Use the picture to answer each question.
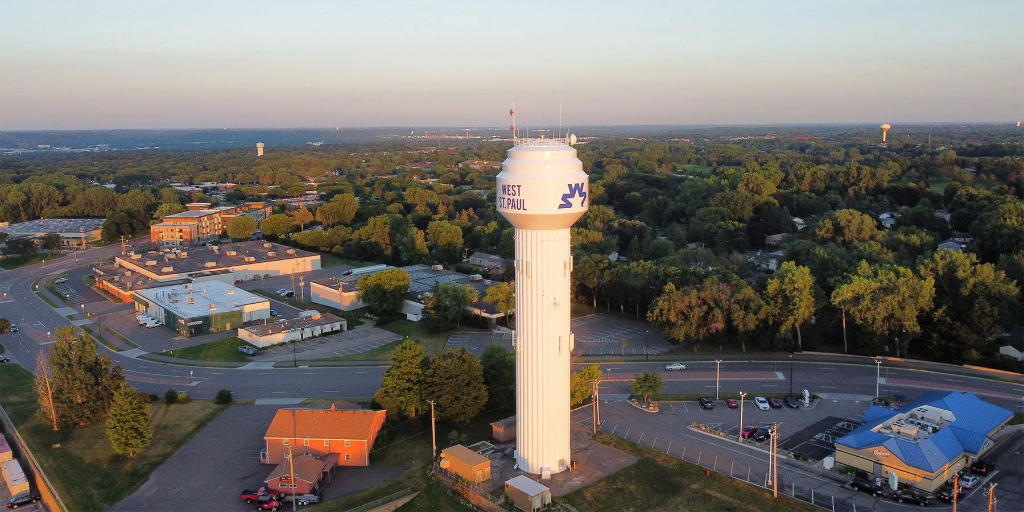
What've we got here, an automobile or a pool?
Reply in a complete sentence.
It is an automobile that can be seen here.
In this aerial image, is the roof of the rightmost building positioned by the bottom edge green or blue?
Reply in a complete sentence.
From above, the roof of the rightmost building positioned by the bottom edge appears blue.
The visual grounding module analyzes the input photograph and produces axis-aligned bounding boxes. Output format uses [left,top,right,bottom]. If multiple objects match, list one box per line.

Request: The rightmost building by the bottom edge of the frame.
[833,388,1015,493]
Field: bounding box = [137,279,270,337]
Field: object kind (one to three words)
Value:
building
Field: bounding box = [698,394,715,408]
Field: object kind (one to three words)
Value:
car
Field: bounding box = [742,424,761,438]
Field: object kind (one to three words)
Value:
car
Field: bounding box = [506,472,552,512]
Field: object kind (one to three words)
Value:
shed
